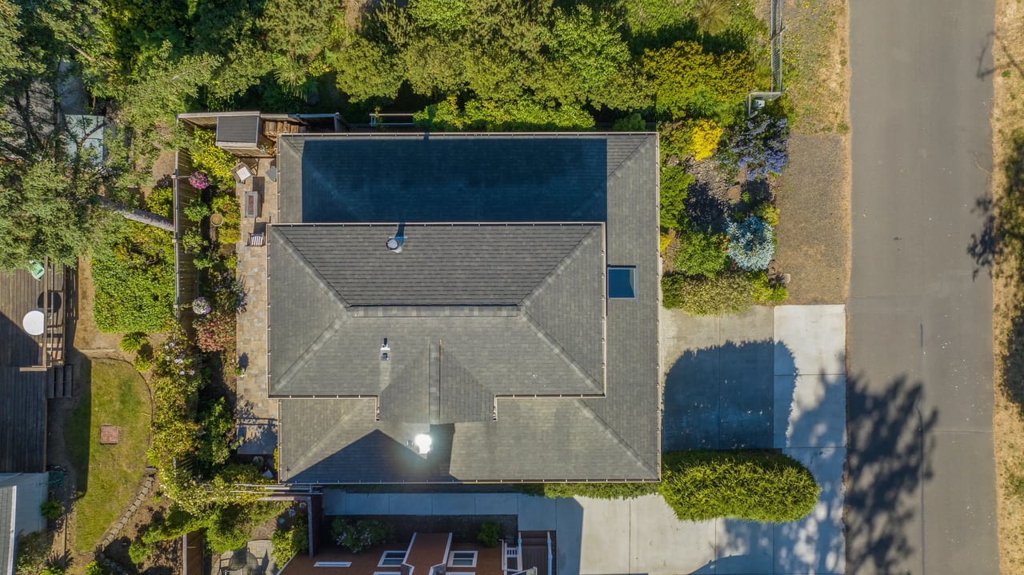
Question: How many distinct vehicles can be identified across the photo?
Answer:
0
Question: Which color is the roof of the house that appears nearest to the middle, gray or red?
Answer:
gray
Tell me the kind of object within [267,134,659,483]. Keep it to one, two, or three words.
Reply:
house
